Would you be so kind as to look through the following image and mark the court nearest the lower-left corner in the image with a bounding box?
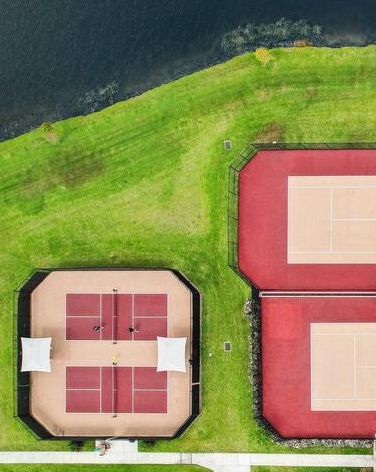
[65,366,167,413]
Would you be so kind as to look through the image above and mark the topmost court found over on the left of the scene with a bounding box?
[65,293,167,340]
